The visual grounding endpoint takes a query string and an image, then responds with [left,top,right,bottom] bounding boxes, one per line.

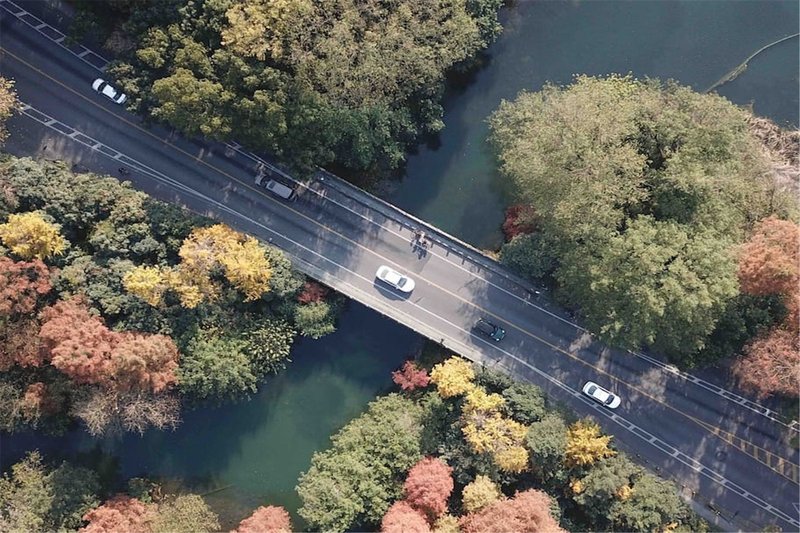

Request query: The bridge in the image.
[290,163,546,367]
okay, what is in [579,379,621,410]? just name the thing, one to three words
car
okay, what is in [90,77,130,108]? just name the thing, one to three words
car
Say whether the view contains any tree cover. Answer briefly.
Yes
